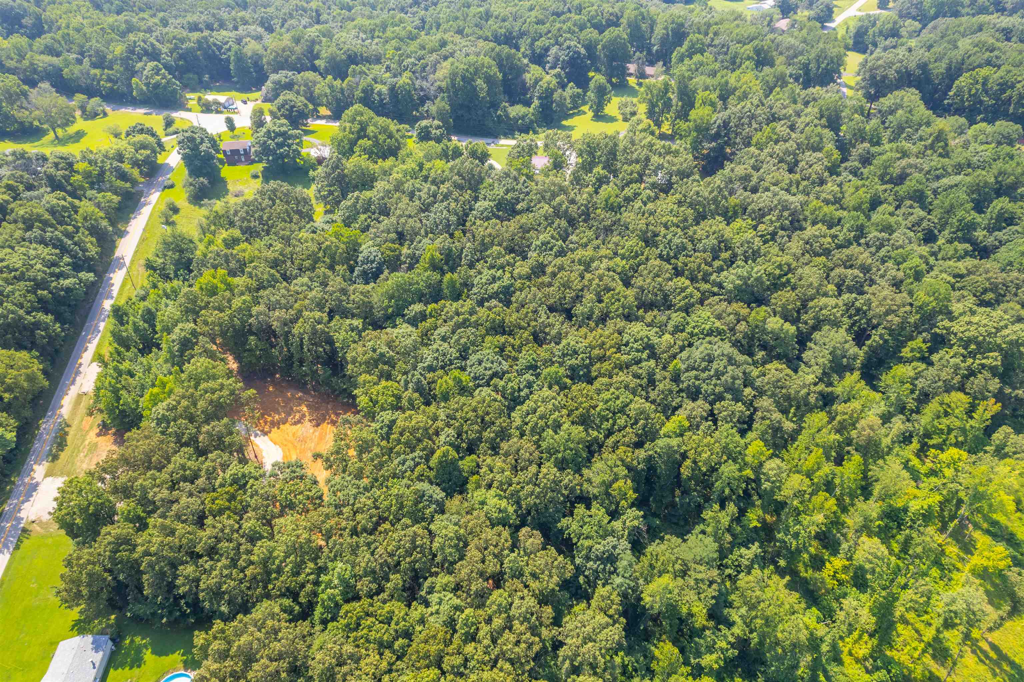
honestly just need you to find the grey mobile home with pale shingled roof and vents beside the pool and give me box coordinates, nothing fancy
[42,634,113,682]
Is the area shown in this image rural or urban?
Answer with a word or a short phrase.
rural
